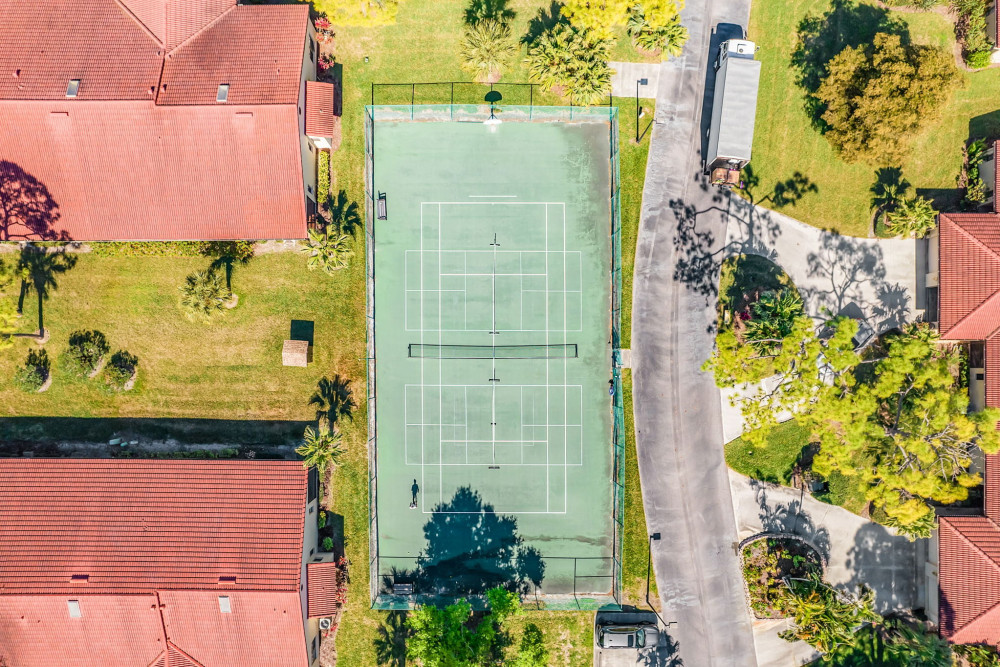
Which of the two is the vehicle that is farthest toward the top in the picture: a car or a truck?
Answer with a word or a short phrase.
truck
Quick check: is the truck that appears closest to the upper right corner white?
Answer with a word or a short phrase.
Yes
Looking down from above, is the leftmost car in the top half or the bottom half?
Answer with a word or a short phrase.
bottom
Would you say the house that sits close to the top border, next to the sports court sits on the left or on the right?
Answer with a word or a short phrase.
left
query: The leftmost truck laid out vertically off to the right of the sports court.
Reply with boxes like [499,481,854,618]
[703,38,762,187]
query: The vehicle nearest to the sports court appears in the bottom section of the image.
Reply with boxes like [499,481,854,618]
[597,620,662,654]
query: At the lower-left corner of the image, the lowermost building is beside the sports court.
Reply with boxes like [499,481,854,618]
[0,457,340,667]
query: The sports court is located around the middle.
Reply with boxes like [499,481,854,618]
[364,110,616,601]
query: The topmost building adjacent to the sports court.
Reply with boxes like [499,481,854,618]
[0,0,338,241]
